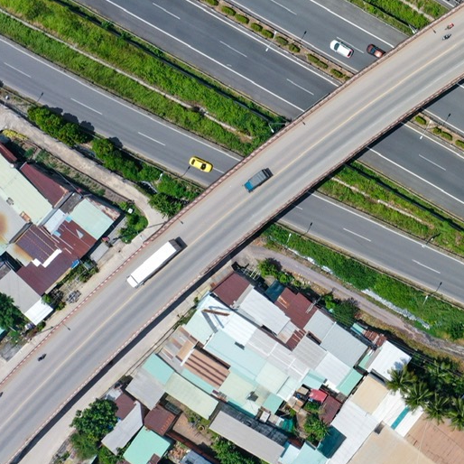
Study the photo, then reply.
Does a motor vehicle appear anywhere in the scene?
Yes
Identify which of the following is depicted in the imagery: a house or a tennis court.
house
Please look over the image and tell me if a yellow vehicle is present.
Yes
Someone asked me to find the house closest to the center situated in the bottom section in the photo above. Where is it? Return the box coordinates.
[211,270,254,304]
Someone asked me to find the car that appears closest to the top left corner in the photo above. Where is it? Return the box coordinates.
[189,155,215,173]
